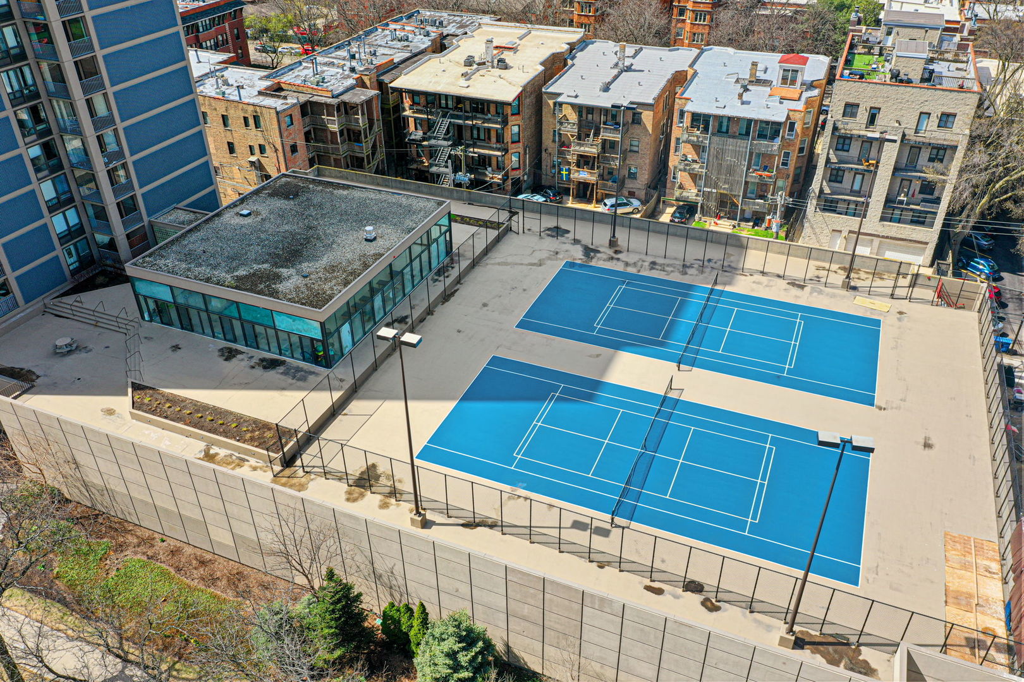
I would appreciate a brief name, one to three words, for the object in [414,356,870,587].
tennis court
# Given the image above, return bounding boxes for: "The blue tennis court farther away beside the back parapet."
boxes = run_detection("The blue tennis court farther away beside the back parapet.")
[514,260,881,407]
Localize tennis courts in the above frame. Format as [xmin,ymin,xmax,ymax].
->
[414,356,870,587]
[514,260,881,407]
